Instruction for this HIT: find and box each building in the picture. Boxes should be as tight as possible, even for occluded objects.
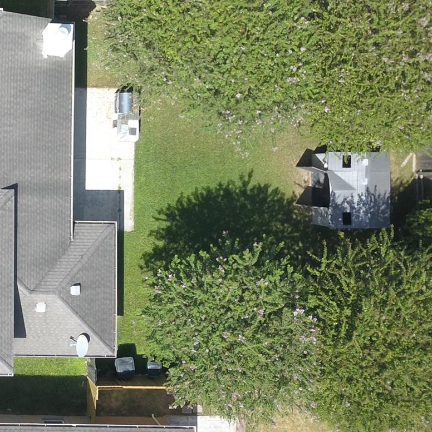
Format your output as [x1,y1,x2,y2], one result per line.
[296,150,390,229]
[0,405,199,432]
[0,6,119,377]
